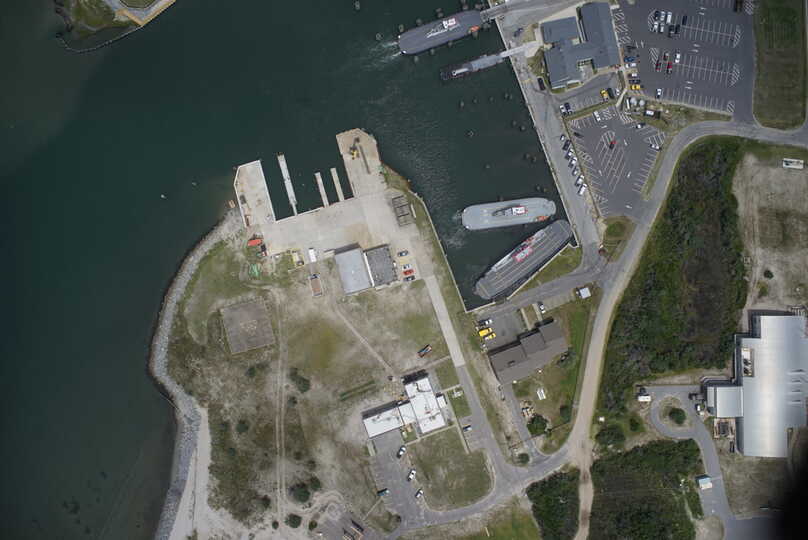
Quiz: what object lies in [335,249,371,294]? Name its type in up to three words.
shed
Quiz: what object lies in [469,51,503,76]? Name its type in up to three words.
pier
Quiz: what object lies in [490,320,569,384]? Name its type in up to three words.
house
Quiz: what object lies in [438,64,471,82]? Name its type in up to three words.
vessel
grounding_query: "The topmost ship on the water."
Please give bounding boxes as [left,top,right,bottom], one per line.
[398,12,481,54]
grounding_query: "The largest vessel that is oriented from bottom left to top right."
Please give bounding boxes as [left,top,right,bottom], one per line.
[472,220,574,302]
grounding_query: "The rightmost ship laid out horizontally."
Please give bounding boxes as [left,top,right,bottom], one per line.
[462,200,556,229]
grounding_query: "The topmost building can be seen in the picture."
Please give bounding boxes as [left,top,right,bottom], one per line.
[541,2,624,92]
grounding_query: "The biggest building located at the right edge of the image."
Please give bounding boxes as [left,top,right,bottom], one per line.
[705,315,807,457]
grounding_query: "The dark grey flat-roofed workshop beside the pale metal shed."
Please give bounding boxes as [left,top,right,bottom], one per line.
[365,246,400,287]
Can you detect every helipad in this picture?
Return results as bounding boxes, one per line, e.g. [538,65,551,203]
[221,298,275,354]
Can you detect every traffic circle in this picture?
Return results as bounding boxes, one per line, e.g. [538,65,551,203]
[645,386,808,540]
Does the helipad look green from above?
No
